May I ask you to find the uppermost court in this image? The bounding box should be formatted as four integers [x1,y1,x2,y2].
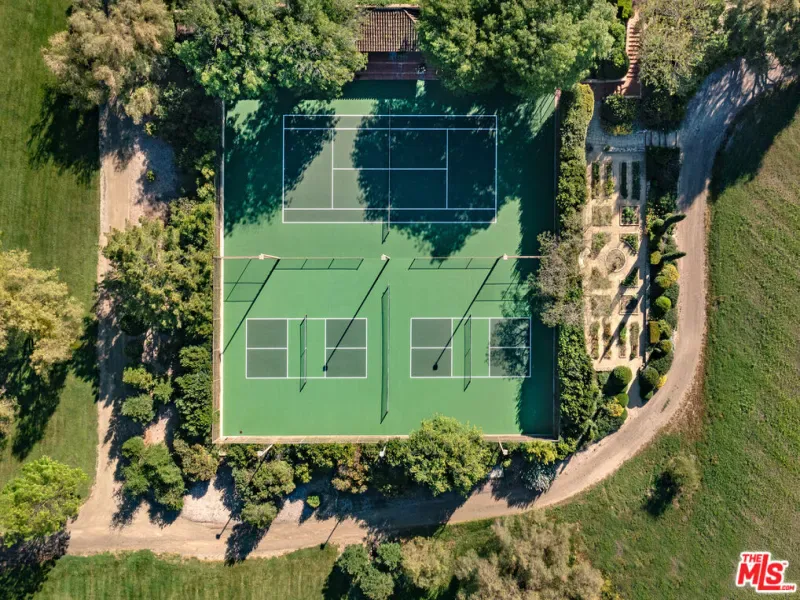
[223,78,555,258]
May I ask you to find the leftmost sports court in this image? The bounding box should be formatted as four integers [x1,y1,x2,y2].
[223,258,388,436]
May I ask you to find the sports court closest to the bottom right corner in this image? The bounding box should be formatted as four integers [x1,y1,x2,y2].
[388,258,555,436]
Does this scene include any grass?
Yes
